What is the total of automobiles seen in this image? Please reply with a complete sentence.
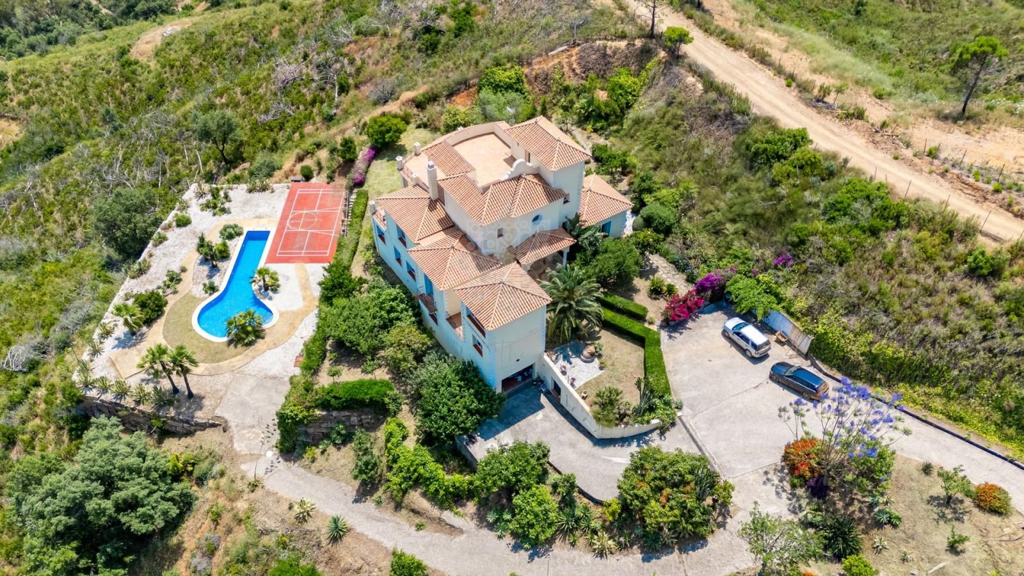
There are 2 automobiles in the image.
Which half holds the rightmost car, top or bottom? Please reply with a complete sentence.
It is in the bottom half that the rightmost car appears.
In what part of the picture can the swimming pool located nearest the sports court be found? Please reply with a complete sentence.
The swimming pool located nearest the sports court is located in the left region of the scene.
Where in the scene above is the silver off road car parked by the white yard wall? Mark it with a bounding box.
[722,318,773,360]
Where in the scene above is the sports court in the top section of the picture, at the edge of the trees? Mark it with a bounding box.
[266,182,345,264]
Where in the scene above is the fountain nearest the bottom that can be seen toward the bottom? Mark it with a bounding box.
[577,345,599,368]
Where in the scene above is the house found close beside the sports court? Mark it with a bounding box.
[369,116,634,398]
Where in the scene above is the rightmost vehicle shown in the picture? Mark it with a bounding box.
[767,359,829,402]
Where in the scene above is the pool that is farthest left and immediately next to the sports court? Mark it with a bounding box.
[191,220,280,343]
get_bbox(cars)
[767,359,829,402]
[722,318,773,360]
